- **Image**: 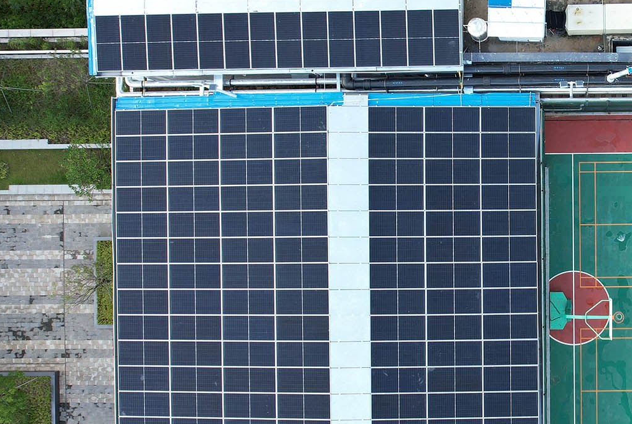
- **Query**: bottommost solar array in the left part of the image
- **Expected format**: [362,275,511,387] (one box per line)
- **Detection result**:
[116,107,331,424]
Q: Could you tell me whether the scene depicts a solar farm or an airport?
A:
solar farm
